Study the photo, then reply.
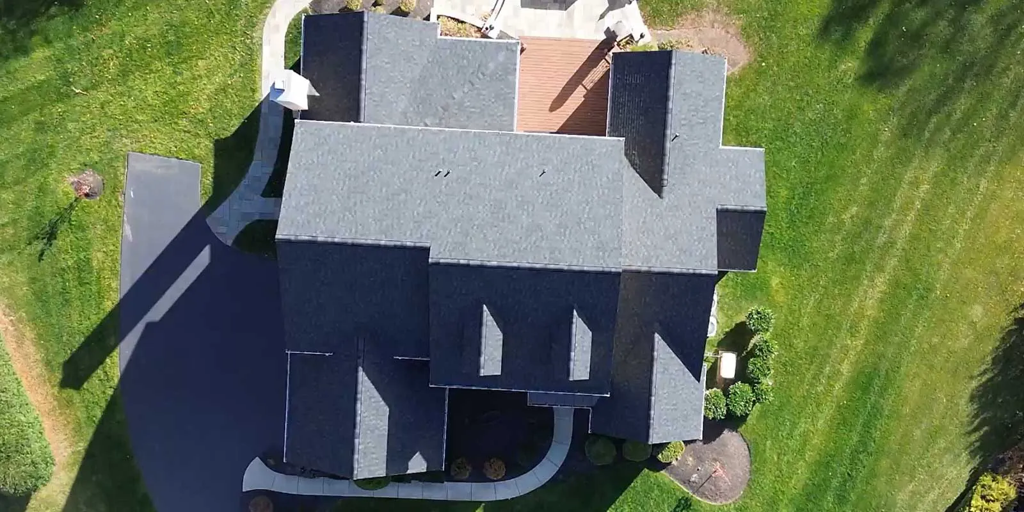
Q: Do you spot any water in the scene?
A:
No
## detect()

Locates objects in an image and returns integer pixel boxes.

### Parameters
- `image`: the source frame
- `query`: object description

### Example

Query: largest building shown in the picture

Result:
[268,10,768,479]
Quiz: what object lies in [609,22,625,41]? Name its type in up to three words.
umbrella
